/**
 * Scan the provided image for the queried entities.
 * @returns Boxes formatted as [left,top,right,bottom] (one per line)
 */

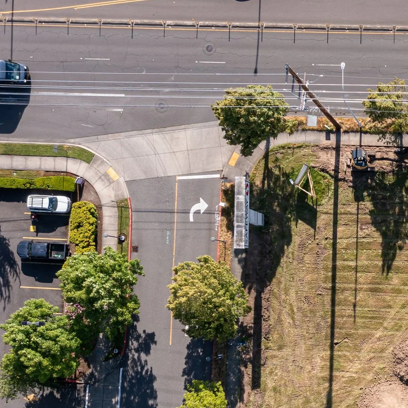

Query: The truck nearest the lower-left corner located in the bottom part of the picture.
[16,238,70,261]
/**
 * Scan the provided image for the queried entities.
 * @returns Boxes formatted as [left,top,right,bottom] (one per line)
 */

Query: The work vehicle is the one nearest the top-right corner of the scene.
[348,142,408,176]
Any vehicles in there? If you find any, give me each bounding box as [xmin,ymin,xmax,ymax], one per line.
[0,59,31,86]
[23,192,72,216]
[348,142,408,176]
[16,238,70,261]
